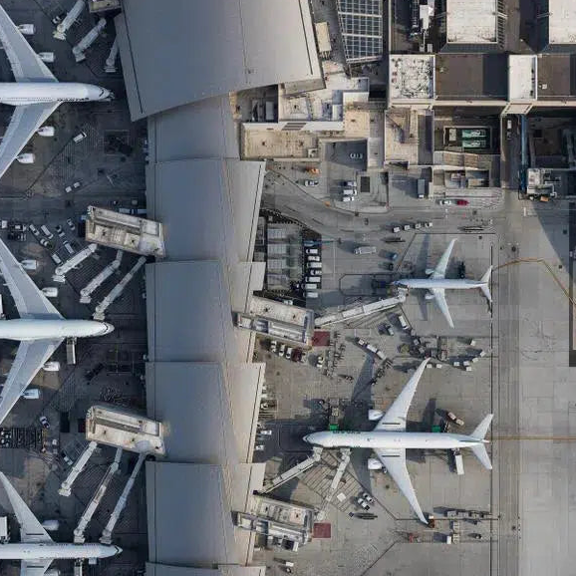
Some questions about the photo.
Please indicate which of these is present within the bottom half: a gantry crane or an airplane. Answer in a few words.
airplane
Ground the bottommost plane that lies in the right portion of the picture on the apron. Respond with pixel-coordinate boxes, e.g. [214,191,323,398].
[305,358,494,523]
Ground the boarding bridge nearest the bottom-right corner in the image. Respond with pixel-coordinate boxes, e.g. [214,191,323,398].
[317,446,353,526]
